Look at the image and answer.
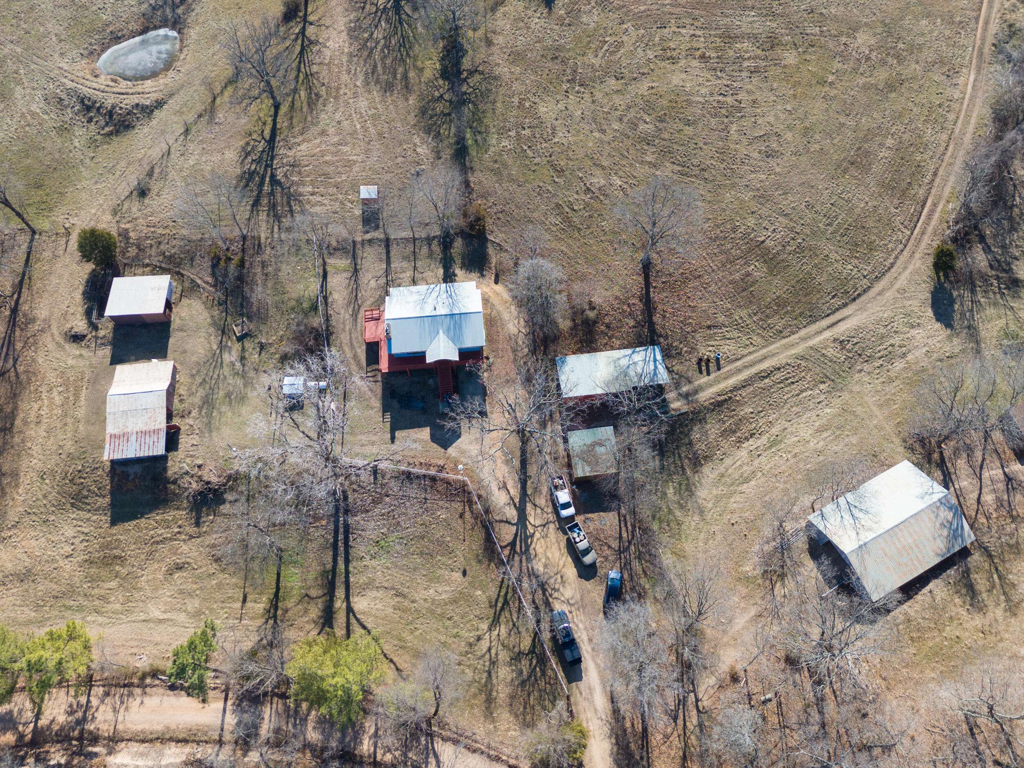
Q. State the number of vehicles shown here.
4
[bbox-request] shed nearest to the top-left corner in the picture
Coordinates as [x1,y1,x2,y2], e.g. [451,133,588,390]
[105,275,175,323]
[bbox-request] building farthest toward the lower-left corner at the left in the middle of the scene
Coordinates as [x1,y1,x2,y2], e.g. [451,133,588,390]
[104,361,188,463]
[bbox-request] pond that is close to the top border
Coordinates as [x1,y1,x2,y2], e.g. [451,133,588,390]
[97,29,182,85]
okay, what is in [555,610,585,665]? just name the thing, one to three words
truck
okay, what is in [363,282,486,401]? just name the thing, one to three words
house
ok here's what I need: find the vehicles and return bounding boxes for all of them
[555,610,585,665]
[565,522,596,568]
[549,474,576,520]
[599,570,621,612]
